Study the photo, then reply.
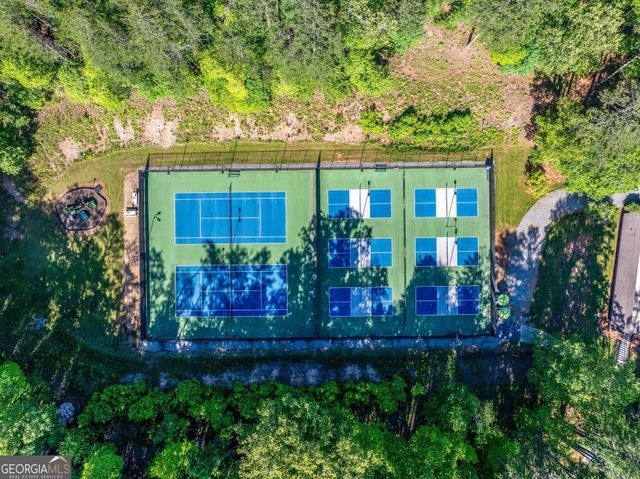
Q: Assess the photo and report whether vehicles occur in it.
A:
No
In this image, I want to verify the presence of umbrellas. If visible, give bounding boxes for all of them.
[498,306,510,318]
[496,294,509,306]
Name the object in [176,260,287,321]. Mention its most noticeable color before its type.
blue tennis court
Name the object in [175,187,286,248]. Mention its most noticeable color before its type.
blue tennis court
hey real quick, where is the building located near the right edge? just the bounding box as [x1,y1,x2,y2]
[606,212,640,328]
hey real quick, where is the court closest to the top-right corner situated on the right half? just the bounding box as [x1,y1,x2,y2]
[415,186,478,218]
